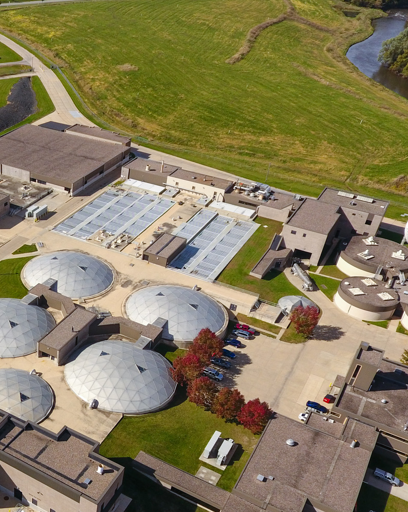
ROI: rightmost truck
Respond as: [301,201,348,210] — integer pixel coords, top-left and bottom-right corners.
[372,466,403,487]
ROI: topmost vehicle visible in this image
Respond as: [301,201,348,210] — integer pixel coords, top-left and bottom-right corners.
[292,256,313,288]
